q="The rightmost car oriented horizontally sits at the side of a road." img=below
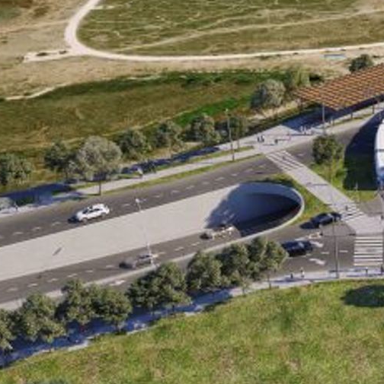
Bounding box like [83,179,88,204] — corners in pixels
[307,209,342,227]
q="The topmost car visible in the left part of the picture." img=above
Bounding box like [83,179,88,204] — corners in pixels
[74,201,110,223]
